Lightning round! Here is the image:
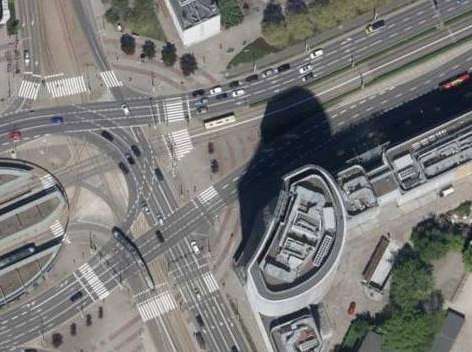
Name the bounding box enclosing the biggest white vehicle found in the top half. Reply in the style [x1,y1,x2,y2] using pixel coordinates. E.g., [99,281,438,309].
[205,117,236,131]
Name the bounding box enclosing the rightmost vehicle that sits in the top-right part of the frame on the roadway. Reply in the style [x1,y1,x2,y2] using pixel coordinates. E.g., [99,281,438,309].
[441,76,470,94]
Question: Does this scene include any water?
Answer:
No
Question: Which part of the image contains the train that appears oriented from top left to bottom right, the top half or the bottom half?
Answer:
bottom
